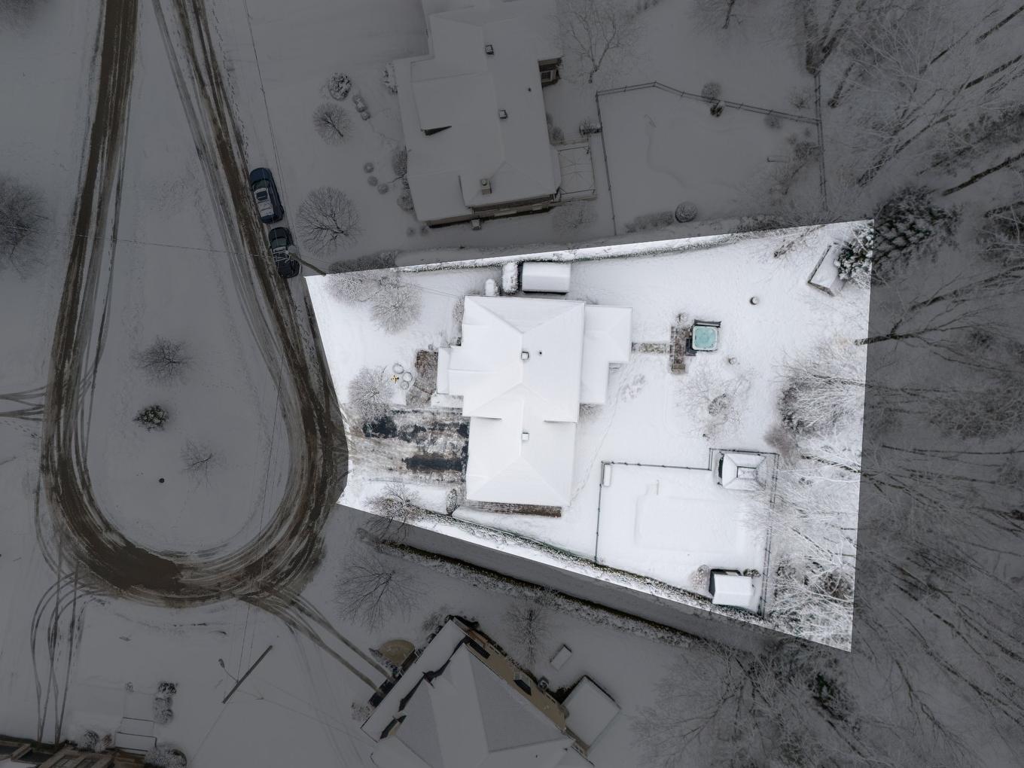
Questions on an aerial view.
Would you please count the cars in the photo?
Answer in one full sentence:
Altogether the scene contains 2 cars.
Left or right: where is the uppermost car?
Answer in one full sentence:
It is on the left.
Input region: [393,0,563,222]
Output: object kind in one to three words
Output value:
house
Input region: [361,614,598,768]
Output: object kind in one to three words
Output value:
house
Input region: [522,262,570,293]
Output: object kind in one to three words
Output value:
shed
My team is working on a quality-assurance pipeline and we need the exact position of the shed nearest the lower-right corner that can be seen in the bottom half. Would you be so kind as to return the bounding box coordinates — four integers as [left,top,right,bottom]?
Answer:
[708,569,757,606]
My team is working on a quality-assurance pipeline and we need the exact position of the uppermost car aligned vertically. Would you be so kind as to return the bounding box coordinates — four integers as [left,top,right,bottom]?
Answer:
[247,163,283,225]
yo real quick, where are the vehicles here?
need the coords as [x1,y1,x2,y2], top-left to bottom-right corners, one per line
[266,222,301,283]
[247,163,283,225]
